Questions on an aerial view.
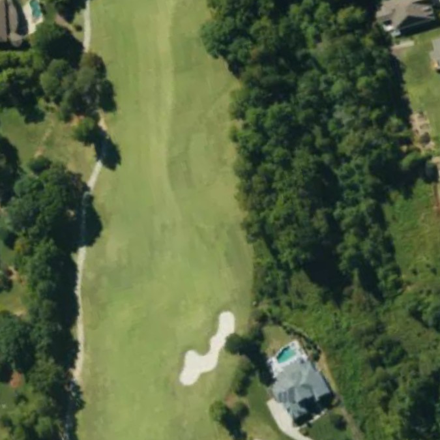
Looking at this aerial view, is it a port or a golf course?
golf course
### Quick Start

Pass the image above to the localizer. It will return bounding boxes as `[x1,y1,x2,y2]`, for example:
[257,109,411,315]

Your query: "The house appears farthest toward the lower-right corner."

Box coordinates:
[272,360,331,427]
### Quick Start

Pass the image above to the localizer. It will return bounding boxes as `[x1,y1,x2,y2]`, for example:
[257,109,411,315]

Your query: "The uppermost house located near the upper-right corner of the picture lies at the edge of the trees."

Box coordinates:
[377,0,437,35]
